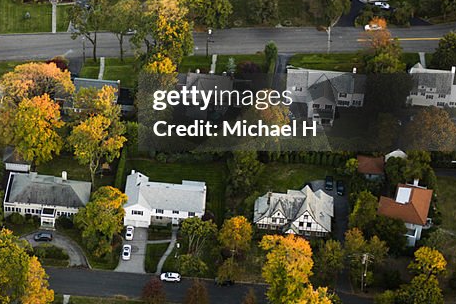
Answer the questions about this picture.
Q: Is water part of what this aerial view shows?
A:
No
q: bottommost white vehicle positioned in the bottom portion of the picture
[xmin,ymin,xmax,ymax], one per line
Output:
[160,270,181,282]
